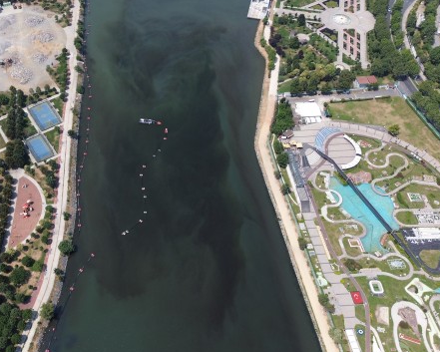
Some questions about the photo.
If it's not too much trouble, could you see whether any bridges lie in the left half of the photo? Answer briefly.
No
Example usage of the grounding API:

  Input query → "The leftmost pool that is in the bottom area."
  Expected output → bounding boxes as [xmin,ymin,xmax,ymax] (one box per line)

[329,181,400,254]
